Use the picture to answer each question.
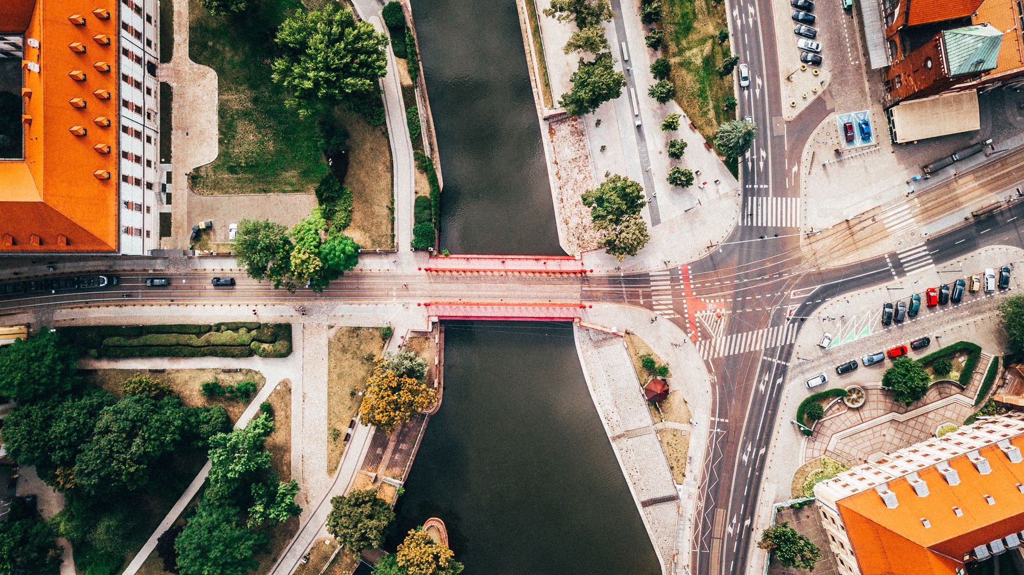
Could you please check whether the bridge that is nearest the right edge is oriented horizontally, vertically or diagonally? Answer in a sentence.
In this picture, the bridge that is nearest the right edge is oriented horizontally.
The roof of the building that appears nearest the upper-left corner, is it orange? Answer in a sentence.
Yes, the roof of the building that appears nearest the upper-left corner is orange.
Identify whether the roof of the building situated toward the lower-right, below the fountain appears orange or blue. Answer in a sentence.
The color of the roof of the building situated toward the lower-right, below the fountain is orange.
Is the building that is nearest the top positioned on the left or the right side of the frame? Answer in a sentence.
The building that is nearest the top sits on the right side.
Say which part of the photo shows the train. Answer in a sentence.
Look in the left portion of the view to spot the train.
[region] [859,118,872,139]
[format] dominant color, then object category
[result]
blue vehicle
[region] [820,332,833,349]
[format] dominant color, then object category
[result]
white vehicle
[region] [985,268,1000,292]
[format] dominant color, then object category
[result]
white vehicle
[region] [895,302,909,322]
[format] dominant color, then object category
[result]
gray car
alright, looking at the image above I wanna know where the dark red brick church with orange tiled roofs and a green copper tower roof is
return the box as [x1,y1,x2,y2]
[874,0,1024,109]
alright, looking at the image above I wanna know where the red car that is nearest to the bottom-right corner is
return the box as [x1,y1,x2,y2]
[888,345,910,358]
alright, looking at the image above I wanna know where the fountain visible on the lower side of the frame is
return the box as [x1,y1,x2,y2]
[844,386,867,408]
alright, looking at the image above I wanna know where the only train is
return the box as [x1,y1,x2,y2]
[0,276,122,298]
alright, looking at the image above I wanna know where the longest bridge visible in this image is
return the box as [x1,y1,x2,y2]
[416,254,595,322]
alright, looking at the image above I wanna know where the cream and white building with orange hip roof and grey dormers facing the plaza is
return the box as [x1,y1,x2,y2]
[808,406,1024,575]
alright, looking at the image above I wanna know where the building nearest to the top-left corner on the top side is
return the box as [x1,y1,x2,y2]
[0,0,164,254]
